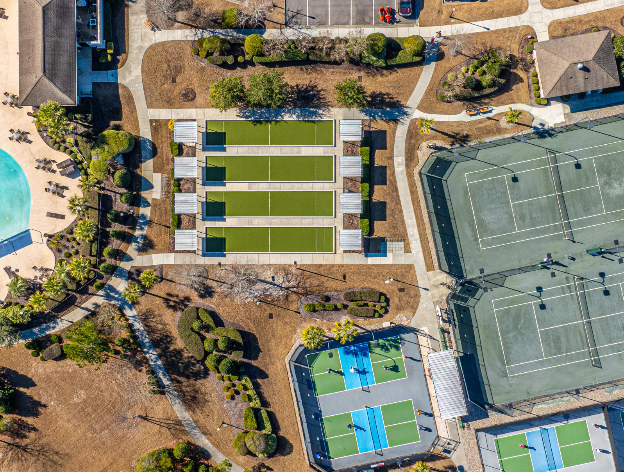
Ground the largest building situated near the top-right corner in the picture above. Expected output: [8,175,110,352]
[535,30,619,99]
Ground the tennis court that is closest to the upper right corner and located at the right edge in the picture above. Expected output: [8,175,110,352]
[421,115,624,278]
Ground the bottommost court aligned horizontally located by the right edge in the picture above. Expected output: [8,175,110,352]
[476,404,617,472]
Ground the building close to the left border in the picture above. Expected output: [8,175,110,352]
[17,0,79,107]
